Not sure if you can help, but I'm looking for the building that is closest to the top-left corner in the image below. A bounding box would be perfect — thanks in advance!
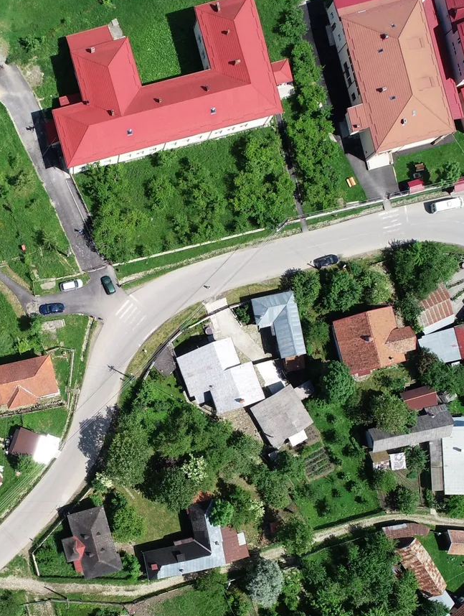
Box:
[45,0,294,175]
